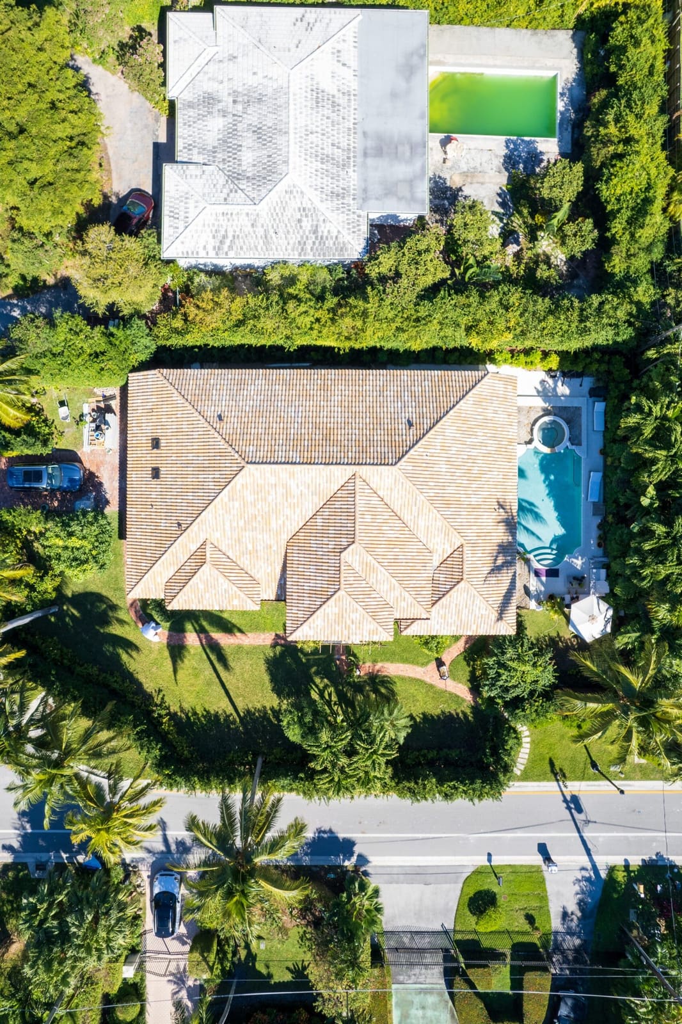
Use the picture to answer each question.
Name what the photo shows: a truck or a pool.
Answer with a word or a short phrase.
pool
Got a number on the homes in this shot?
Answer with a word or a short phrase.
2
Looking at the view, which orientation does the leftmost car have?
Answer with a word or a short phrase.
horizontally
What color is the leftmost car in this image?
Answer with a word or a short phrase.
blue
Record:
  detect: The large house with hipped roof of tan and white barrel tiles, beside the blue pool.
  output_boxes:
[125,368,518,642]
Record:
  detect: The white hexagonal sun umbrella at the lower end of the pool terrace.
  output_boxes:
[569,595,612,643]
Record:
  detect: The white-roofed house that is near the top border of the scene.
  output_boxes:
[160,4,430,272]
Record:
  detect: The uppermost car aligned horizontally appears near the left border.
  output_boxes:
[9,459,88,494]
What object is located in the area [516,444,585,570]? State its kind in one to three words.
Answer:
swimming pool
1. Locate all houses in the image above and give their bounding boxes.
[125,368,518,642]
[160,4,430,272]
